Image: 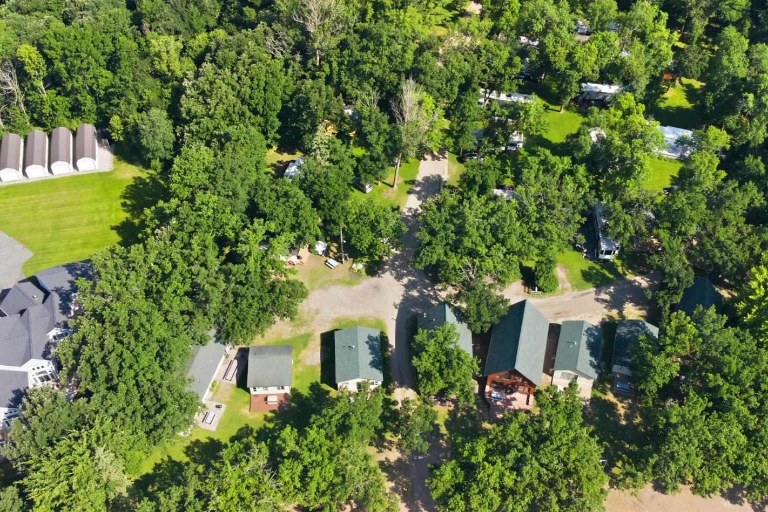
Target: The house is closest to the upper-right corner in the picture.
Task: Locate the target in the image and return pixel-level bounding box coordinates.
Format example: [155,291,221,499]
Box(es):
[654,126,692,169]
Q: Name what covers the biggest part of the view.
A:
trees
